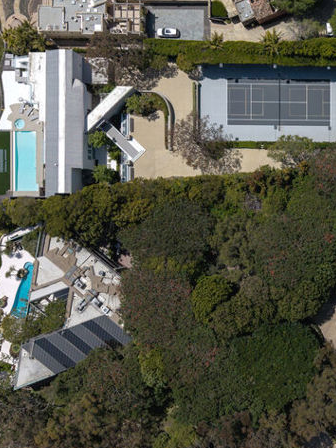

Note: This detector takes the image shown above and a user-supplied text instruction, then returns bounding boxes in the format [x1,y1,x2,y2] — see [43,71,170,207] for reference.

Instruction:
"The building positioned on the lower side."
[16,234,132,389]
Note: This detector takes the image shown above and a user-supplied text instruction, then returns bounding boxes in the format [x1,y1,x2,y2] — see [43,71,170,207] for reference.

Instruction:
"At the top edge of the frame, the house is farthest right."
[235,0,274,26]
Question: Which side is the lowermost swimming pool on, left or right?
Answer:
left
